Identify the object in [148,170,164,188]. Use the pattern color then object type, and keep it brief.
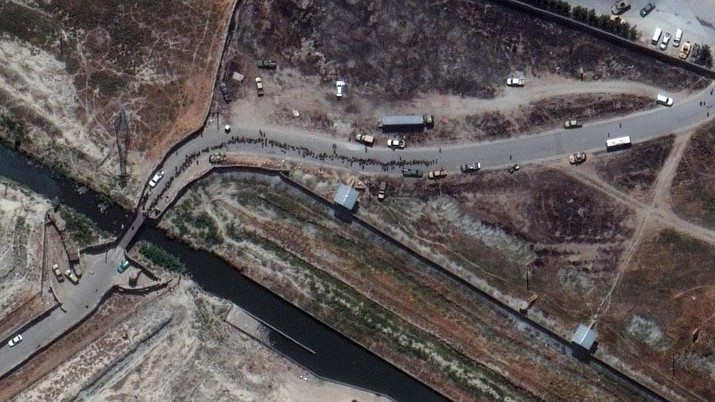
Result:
white vehicle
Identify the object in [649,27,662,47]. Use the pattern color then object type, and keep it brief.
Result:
white vehicle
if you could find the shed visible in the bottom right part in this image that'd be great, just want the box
[571,325,600,353]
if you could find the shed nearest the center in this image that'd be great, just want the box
[332,184,361,213]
